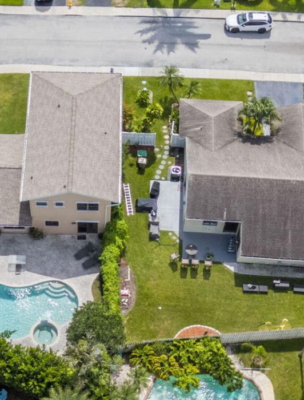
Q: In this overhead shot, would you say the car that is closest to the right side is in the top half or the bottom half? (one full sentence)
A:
The top half of the photo is where the car that is closest to the right side is.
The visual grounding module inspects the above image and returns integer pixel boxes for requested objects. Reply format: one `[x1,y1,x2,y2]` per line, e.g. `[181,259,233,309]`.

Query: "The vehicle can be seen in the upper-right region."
[223,11,274,35]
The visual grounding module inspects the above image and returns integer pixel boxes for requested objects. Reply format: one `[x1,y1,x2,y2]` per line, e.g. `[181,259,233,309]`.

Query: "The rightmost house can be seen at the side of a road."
[179,99,304,270]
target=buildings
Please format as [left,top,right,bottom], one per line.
[179,99,304,270]
[18,72,124,234]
